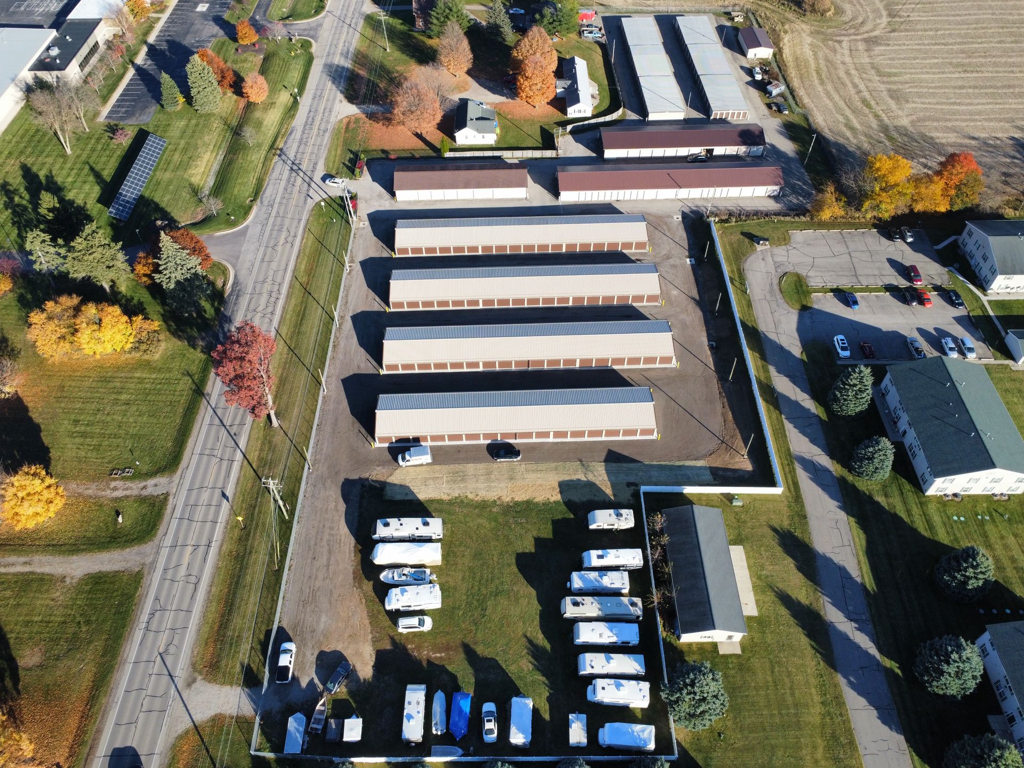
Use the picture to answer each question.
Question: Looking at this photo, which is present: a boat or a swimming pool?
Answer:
boat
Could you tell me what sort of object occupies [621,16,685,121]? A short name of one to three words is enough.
building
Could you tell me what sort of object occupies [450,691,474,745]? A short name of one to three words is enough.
boat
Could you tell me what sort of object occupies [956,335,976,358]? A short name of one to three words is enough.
car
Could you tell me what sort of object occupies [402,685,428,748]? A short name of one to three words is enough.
vehicle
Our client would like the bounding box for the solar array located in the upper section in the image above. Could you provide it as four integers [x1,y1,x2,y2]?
[108,133,166,221]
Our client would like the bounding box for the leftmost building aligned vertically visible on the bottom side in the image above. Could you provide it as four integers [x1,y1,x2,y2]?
[661,505,747,642]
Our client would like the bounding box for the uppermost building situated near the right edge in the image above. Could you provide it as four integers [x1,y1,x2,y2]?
[958,222,1024,292]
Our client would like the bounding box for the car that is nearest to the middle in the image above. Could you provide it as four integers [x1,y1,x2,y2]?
[493,448,521,462]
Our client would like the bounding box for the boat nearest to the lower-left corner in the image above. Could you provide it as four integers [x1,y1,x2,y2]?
[309,695,327,732]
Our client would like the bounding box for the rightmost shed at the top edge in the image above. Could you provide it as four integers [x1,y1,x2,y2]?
[737,25,774,59]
